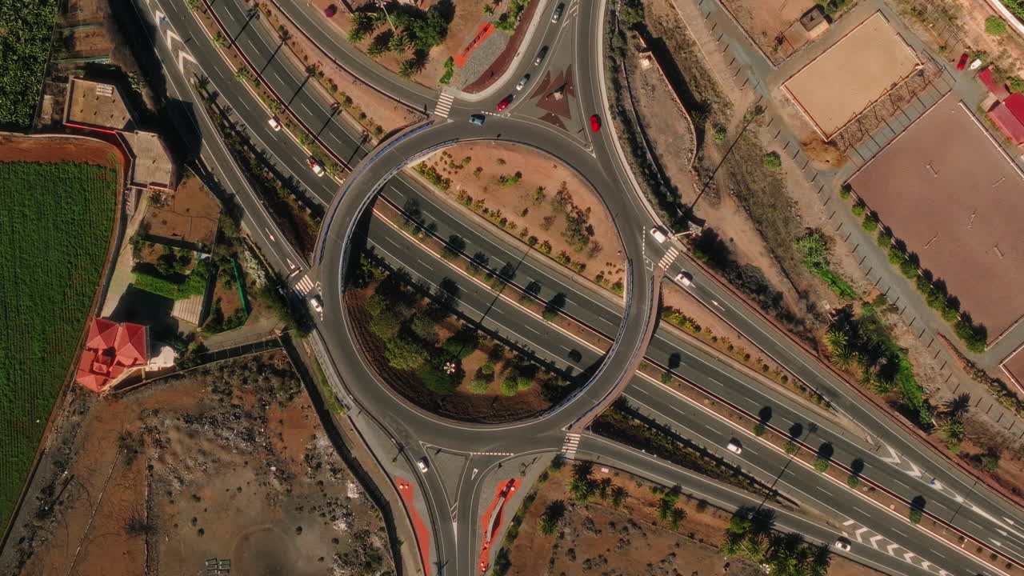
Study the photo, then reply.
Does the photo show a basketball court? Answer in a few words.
No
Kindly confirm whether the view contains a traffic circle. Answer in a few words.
Yes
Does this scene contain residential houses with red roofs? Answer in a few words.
Yes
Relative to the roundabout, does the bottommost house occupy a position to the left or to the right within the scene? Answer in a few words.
left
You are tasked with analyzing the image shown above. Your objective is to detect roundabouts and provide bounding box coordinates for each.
[297,96,680,453]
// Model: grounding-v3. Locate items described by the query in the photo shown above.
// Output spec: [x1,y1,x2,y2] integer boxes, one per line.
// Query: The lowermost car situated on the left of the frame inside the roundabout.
[310,296,323,313]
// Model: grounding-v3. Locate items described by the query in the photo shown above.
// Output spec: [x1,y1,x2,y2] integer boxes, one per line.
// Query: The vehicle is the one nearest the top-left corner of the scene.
[266,116,281,131]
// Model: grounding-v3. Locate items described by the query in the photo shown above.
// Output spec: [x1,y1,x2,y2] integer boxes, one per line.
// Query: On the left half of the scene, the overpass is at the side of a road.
[311,119,441,284]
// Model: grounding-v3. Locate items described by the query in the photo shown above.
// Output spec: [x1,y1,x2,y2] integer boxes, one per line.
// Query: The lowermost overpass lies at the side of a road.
[563,242,660,430]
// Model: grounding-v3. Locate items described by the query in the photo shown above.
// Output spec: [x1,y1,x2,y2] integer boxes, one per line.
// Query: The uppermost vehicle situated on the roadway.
[551,1,565,23]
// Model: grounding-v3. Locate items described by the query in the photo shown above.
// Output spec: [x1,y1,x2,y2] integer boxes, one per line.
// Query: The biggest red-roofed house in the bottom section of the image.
[76,318,158,395]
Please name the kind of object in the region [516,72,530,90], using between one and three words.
car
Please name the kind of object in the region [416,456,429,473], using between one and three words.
vehicle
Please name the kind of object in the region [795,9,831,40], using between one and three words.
shed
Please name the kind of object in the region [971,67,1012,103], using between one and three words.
barn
